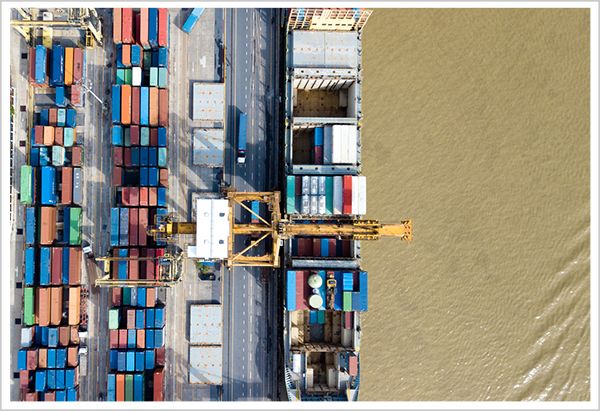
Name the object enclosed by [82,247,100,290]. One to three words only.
vehicle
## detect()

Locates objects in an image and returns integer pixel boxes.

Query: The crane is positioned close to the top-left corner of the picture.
[9,0,110,49]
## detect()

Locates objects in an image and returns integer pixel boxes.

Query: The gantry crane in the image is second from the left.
[97,246,188,287]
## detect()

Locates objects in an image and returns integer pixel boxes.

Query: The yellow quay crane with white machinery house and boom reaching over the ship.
[145,189,411,268]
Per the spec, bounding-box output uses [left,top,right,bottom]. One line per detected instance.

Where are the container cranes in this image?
[97,246,188,287]
[145,189,411,268]
[9,0,110,49]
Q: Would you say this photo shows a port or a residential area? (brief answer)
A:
port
